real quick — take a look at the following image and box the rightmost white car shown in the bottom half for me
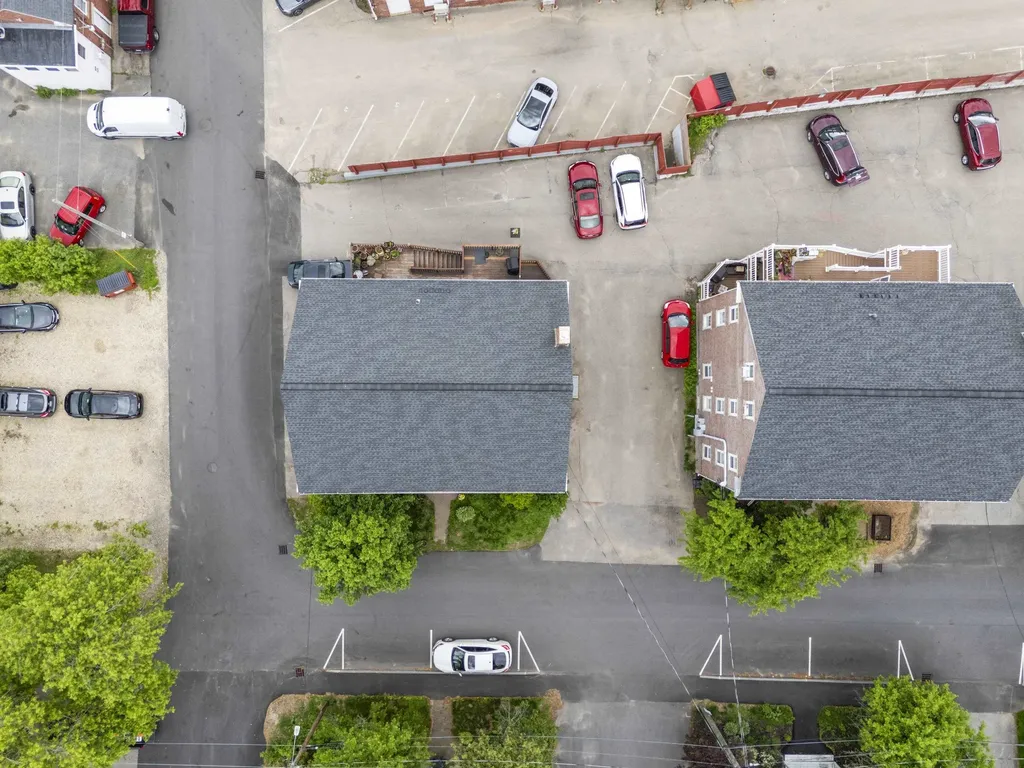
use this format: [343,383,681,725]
[431,637,512,677]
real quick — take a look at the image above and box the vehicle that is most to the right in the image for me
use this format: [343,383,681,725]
[952,97,1003,173]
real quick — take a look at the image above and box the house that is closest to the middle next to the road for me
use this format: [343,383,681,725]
[280,280,573,494]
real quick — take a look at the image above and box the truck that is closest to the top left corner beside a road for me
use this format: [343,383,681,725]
[118,0,162,54]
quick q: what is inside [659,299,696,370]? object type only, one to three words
car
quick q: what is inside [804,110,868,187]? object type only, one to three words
car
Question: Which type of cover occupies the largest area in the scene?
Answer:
paved ground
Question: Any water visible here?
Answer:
No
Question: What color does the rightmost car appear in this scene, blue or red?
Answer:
red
